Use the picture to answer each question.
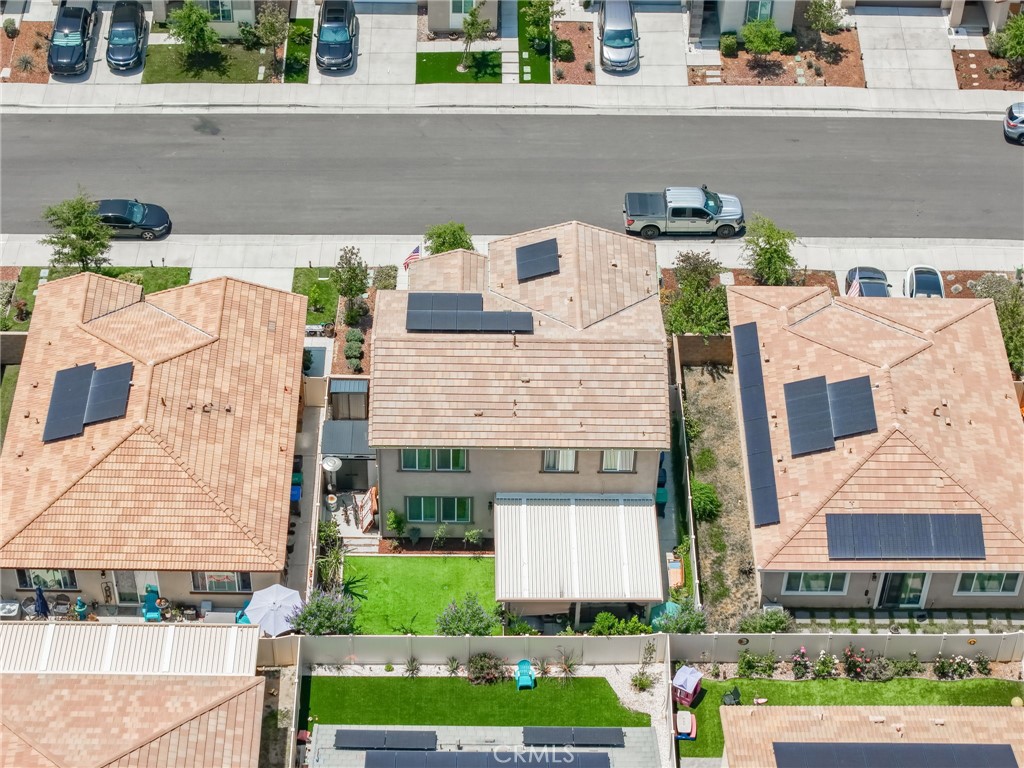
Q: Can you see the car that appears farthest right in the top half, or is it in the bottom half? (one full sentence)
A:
Seen from above, the car that appears farthest right lies in the top half of the view.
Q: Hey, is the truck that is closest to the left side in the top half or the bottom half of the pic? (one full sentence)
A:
The truck that is closest to the left side sits in the top half of the picture.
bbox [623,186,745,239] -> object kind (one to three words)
truck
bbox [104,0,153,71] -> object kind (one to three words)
car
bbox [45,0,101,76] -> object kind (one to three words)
truck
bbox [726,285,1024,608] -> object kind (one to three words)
house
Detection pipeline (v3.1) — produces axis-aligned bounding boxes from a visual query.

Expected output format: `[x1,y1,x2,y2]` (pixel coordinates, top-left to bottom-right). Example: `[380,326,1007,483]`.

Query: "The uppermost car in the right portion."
[595,1,641,74]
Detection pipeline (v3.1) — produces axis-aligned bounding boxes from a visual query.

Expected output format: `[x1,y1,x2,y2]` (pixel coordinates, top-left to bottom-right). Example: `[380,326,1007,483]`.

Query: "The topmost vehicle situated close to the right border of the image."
[999,100,1024,146]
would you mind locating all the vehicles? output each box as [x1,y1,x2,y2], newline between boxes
[72,197,171,241]
[314,1,360,73]
[904,265,957,297]
[45,0,101,76]
[595,1,641,74]
[104,0,153,71]
[848,266,899,297]
[999,100,1024,146]
[623,186,745,239]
